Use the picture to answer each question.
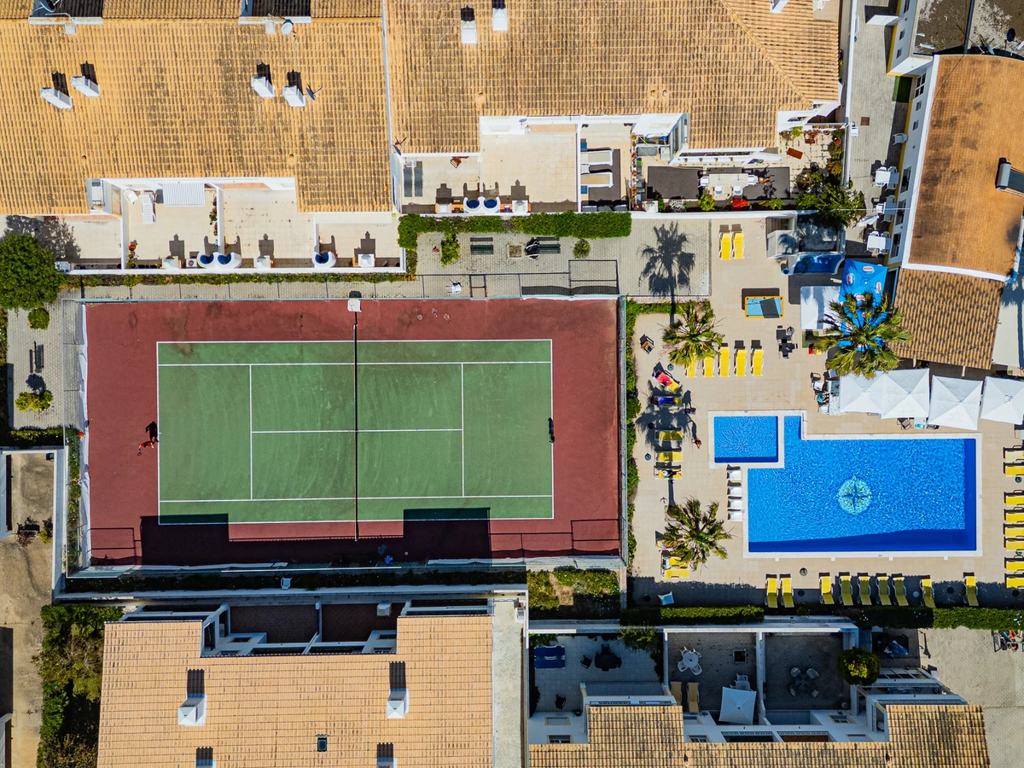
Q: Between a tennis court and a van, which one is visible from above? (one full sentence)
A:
There is a tennis court in the scene.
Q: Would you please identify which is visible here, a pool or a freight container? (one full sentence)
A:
The image shows a pool.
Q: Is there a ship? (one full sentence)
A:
No, there's no ship here.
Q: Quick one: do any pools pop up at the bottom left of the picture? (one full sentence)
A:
No, I see no pool at the bottom left of the picture.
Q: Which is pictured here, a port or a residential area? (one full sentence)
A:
This image shows a residential area.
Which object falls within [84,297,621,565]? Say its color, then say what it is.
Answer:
green tennis court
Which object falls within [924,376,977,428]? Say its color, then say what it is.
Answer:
white umbrella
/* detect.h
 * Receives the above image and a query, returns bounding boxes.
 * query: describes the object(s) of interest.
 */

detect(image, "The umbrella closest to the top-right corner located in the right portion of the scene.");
[849,216,881,228]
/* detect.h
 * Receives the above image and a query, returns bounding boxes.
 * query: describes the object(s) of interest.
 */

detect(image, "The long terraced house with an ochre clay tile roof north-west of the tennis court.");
[0,0,400,229]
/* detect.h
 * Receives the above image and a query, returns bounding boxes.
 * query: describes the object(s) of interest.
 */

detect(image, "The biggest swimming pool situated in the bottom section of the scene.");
[745,411,983,558]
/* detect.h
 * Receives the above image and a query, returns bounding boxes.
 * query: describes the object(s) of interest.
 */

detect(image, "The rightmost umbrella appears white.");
[973,373,1024,425]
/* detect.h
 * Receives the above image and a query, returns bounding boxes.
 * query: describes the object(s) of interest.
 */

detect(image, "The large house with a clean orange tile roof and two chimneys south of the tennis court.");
[89,590,494,768]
